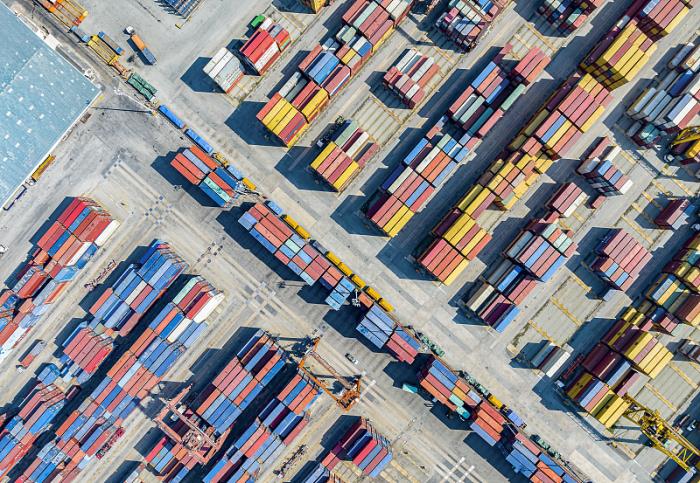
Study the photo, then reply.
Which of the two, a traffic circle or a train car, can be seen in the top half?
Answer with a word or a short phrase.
train car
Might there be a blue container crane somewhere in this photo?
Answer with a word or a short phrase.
No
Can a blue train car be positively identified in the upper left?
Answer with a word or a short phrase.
Yes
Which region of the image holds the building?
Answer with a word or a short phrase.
top left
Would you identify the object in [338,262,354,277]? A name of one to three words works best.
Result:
rail car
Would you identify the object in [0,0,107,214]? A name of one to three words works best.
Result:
building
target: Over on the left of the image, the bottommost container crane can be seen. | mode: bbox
[149,383,234,468]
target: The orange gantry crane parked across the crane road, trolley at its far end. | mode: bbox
[291,334,360,409]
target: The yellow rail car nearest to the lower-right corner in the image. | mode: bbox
[485,392,504,411]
